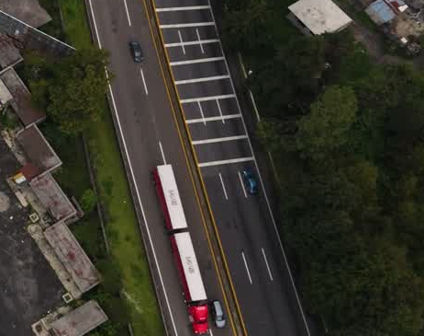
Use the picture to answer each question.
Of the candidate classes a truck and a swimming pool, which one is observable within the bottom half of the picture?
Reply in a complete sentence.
It is a truck that can be seen within the bottom half of the picture.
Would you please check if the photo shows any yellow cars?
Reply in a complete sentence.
No, this view has no yellow car in it.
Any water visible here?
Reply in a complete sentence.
No, there is no water in the image.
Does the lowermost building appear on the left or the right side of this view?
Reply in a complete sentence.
The lowermost building sits on the left side.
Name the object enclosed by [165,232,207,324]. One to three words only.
truck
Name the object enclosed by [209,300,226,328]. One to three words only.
car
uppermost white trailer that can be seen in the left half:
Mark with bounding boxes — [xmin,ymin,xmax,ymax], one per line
[151,166,187,230]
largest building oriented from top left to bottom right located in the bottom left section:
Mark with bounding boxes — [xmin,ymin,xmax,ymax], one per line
[43,222,101,293]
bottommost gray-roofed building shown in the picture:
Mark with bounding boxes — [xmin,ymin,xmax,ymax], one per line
[49,300,108,336]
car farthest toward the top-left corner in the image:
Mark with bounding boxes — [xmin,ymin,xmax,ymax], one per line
[128,40,142,64]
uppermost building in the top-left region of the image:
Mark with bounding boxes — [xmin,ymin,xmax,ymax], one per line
[0,0,51,28]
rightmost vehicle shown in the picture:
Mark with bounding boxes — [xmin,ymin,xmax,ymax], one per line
[241,170,259,196]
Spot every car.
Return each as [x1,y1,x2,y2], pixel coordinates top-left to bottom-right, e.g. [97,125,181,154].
[128,40,142,64]
[241,170,259,196]
[209,300,226,328]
